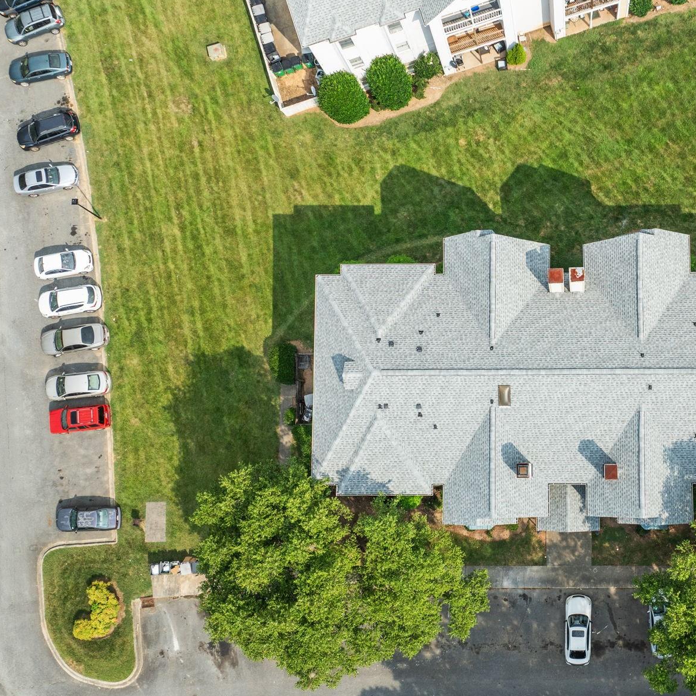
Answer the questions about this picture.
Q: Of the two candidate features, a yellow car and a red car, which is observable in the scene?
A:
red car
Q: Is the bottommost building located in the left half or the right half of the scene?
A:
right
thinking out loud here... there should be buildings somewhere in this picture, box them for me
[311,231,696,534]
[285,0,633,85]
